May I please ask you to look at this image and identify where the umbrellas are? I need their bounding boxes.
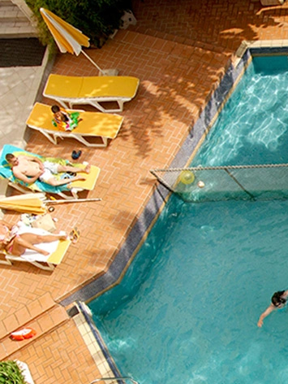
[0,193,100,216]
[39,8,116,76]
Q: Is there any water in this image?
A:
Yes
